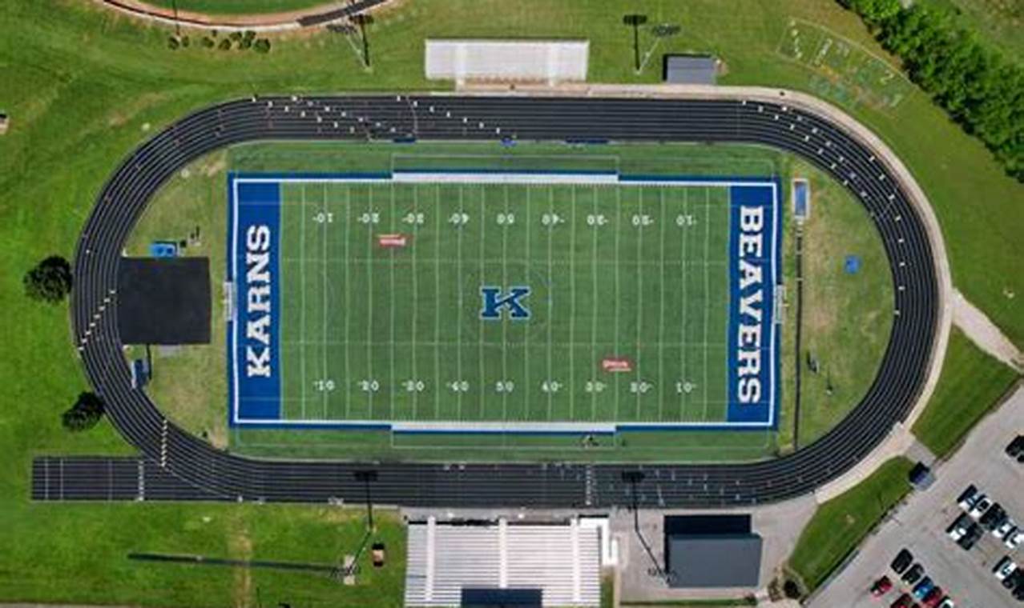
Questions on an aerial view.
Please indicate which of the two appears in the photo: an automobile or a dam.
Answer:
automobile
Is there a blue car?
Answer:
Yes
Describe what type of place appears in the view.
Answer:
sports ground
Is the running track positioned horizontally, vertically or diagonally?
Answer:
horizontally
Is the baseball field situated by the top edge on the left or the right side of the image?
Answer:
left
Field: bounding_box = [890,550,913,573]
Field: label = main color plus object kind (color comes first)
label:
black car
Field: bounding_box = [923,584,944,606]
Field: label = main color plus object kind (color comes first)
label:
red car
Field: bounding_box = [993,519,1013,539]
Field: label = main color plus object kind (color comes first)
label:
white car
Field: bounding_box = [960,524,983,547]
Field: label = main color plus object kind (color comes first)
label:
black car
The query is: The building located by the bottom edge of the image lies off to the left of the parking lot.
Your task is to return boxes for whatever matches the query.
[664,525,764,588]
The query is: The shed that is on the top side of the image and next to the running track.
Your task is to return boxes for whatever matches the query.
[666,55,717,87]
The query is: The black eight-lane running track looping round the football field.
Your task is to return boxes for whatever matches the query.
[32,95,938,506]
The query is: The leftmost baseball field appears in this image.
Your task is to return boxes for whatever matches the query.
[115,0,356,23]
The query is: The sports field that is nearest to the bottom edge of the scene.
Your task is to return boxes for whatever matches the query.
[229,141,781,462]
